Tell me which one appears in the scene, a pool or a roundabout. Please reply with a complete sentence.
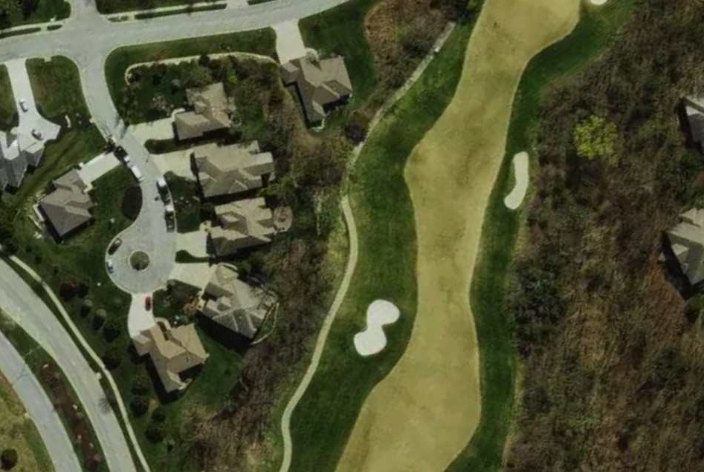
The one in the frame is a roundabout.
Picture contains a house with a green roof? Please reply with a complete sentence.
No, there appears to be no house with a green roof in this shot.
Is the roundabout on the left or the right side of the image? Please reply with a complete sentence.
You can find the roundabout on the left side of the picture.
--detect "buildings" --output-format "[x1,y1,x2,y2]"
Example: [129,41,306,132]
[172,79,235,138]
[0,130,44,189]
[279,52,355,121]
[199,262,276,337]
[194,139,278,195]
[129,321,207,393]
[204,195,275,256]
[37,169,100,237]
[669,205,704,288]
[681,89,704,159]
